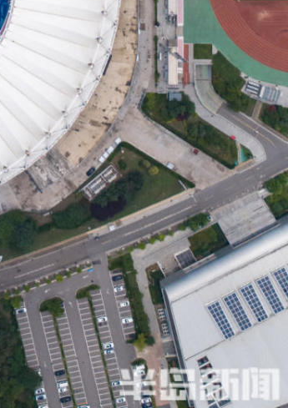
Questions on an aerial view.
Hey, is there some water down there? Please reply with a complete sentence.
No, no water is visible.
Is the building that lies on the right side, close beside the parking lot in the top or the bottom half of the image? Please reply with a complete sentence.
The bottom half of the photo is where the building that lies on the right side, close beside the parking lot is.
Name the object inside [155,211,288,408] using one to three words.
building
